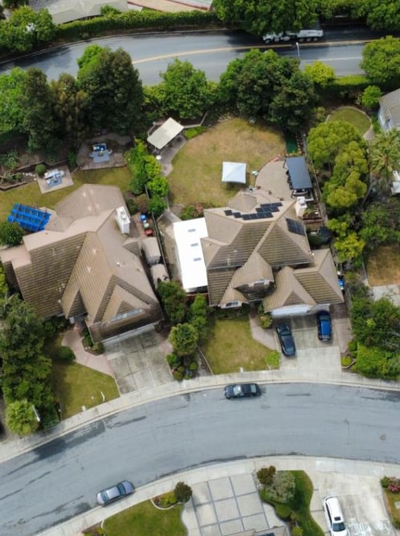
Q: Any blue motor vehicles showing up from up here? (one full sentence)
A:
Yes, looking at the shot, I can spot a blue motor vehicle.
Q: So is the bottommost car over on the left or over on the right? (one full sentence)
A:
The bottommost car appears in the right half of the scene.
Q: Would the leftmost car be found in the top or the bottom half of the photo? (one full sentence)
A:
The leftmost car sits in the bottom half of the picture.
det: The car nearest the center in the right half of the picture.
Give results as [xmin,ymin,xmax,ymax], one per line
[277,324,295,357]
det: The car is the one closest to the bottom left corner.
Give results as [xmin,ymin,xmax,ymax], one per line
[95,480,137,506]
